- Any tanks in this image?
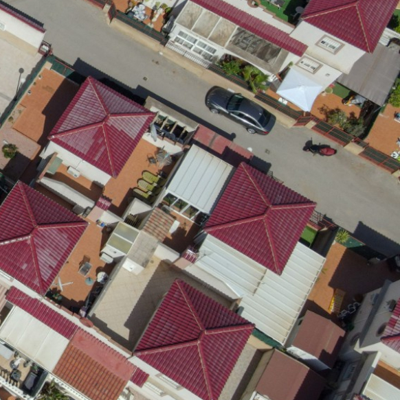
No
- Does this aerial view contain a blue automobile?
No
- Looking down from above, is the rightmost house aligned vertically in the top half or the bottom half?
bottom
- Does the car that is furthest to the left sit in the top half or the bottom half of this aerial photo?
top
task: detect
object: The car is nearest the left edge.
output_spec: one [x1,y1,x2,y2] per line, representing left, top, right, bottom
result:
[197,90,278,142]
